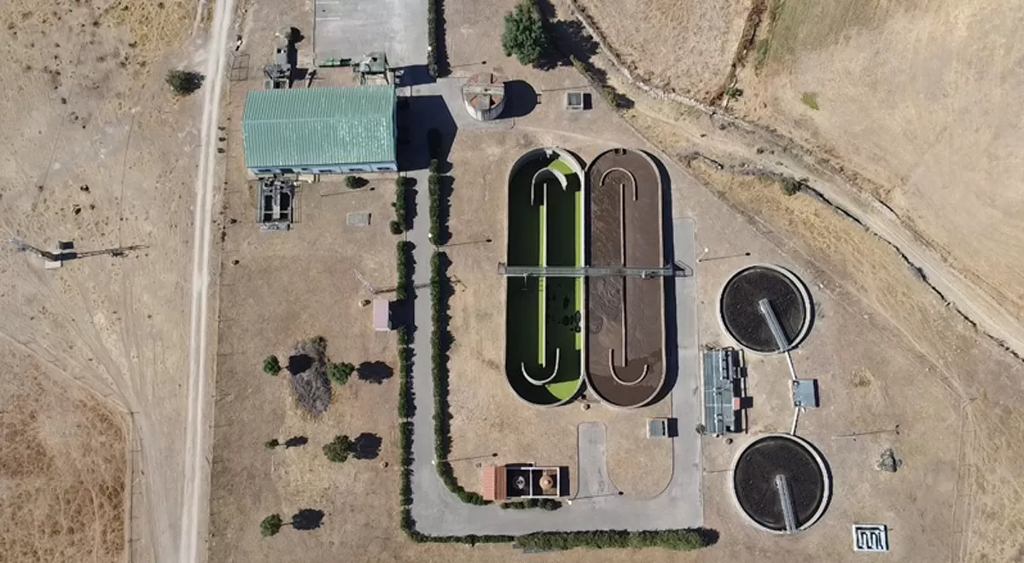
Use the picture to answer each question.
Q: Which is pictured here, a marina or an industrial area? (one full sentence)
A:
It's an industrial area.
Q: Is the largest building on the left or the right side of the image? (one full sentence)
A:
The largest building is on the left side of the image.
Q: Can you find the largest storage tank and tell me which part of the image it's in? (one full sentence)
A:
The largest storage tank is located in the center region of the scene.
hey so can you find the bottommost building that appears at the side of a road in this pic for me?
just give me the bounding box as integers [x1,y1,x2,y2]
[483,463,561,502]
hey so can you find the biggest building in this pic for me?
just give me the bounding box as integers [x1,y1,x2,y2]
[243,86,399,177]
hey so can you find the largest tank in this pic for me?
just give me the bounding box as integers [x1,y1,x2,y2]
[500,147,685,409]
